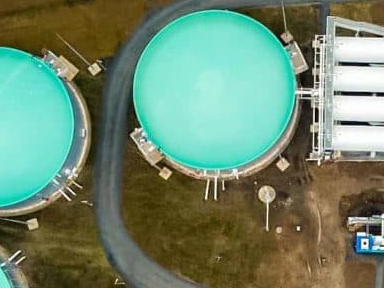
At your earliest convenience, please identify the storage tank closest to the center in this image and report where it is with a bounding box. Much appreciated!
[127,10,311,202]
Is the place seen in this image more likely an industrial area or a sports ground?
industrial area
